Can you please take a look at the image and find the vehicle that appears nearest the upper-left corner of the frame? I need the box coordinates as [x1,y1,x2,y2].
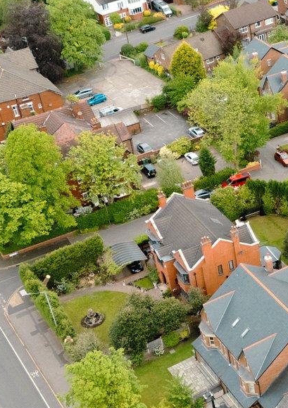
[71,86,96,100]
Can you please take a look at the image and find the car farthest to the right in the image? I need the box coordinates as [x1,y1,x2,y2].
[274,150,288,167]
